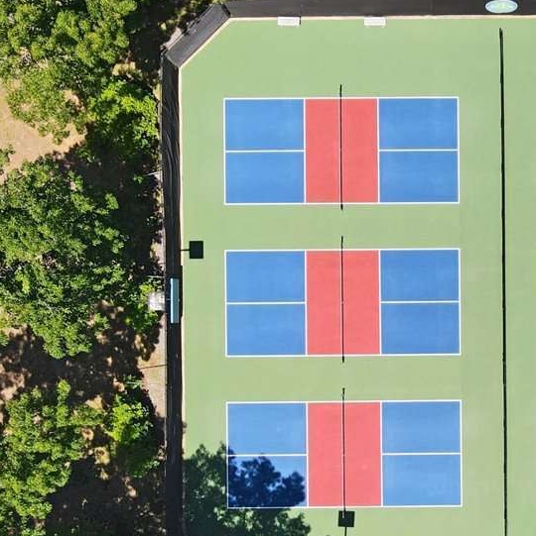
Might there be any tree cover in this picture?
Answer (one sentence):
Yes, tree cover can be seen from above here.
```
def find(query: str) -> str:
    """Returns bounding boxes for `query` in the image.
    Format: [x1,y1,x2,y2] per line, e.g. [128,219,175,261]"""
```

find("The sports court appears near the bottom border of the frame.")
[227,400,463,510]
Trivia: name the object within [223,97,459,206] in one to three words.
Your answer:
sports court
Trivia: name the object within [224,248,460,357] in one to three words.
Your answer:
sports court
